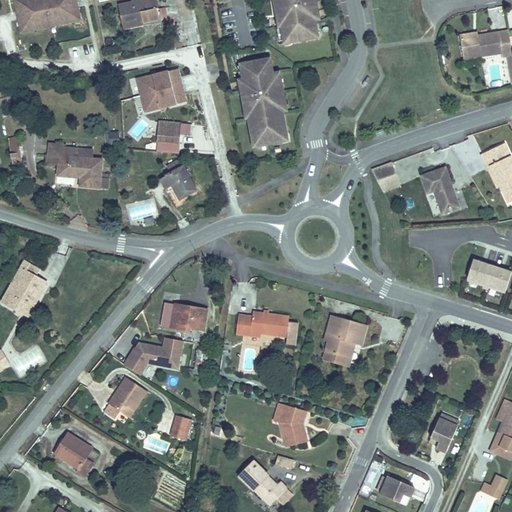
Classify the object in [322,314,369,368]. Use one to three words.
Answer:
house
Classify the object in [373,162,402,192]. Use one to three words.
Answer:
building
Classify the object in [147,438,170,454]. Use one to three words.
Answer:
swimming pool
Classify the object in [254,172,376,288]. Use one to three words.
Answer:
roundabout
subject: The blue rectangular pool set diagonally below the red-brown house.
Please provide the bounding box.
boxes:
[130,119,149,137]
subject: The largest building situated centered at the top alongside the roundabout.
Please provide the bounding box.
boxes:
[238,52,290,148]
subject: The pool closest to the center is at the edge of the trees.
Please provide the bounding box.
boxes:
[243,348,256,371]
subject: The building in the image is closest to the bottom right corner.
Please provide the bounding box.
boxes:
[480,474,509,500]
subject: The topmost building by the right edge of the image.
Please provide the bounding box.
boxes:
[460,28,512,86]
